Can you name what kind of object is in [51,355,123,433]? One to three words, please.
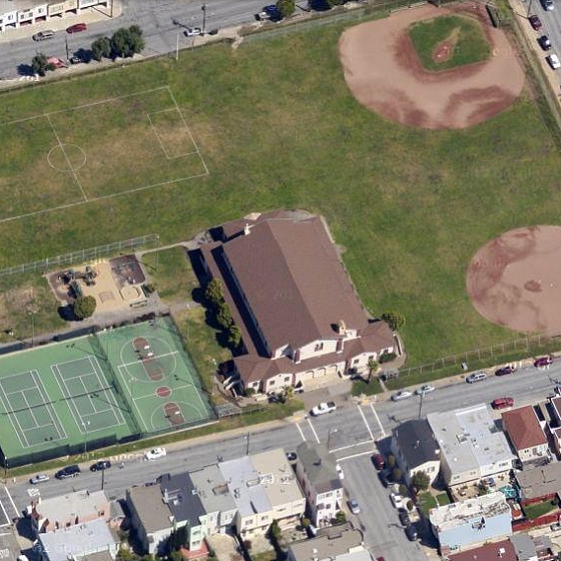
tennis court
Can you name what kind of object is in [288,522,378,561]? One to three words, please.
house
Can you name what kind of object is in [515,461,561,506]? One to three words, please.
house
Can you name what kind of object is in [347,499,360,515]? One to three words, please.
vehicle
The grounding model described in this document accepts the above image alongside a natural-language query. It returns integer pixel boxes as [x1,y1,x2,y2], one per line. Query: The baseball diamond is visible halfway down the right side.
[466,224,561,332]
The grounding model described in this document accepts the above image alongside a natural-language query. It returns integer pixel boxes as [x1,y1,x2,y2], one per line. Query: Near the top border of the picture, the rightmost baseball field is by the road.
[340,0,525,129]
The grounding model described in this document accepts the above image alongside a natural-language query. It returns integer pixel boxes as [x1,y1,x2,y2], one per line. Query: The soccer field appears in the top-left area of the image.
[0,85,209,221]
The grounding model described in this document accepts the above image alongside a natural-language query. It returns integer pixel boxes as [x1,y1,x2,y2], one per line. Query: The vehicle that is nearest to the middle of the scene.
[311,402,335,415]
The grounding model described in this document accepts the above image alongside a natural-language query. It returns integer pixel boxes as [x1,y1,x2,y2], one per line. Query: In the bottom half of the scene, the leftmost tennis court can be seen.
[0,369,66,448]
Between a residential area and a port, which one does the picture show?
residential area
